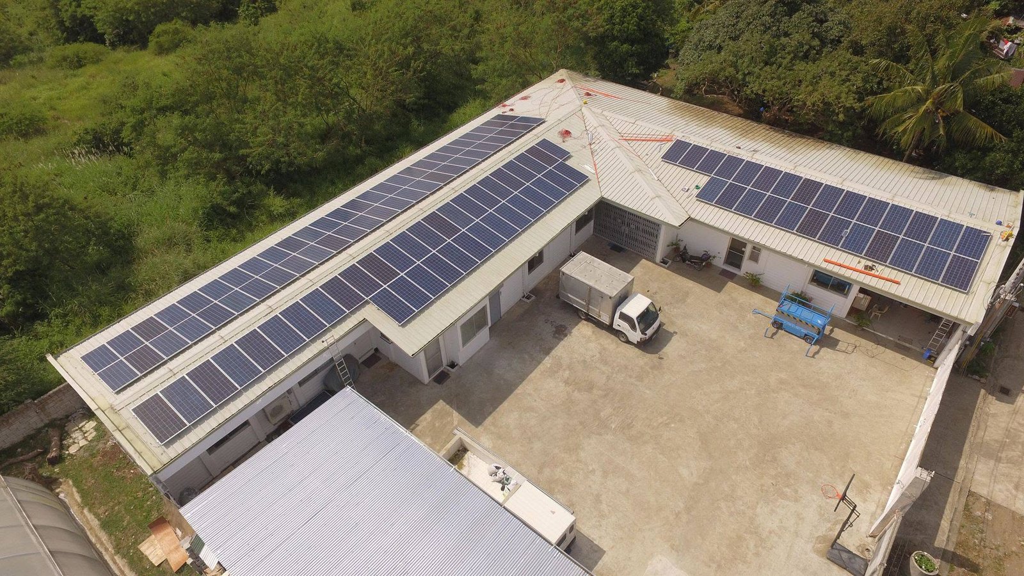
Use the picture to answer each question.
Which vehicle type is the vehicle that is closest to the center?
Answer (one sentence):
The vehicle that is closest to the center is a truck.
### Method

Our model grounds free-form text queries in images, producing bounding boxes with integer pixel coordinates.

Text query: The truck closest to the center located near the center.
[558,252,664,348]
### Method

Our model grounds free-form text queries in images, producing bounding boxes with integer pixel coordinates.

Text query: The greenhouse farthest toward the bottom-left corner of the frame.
[0,478,110,576]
